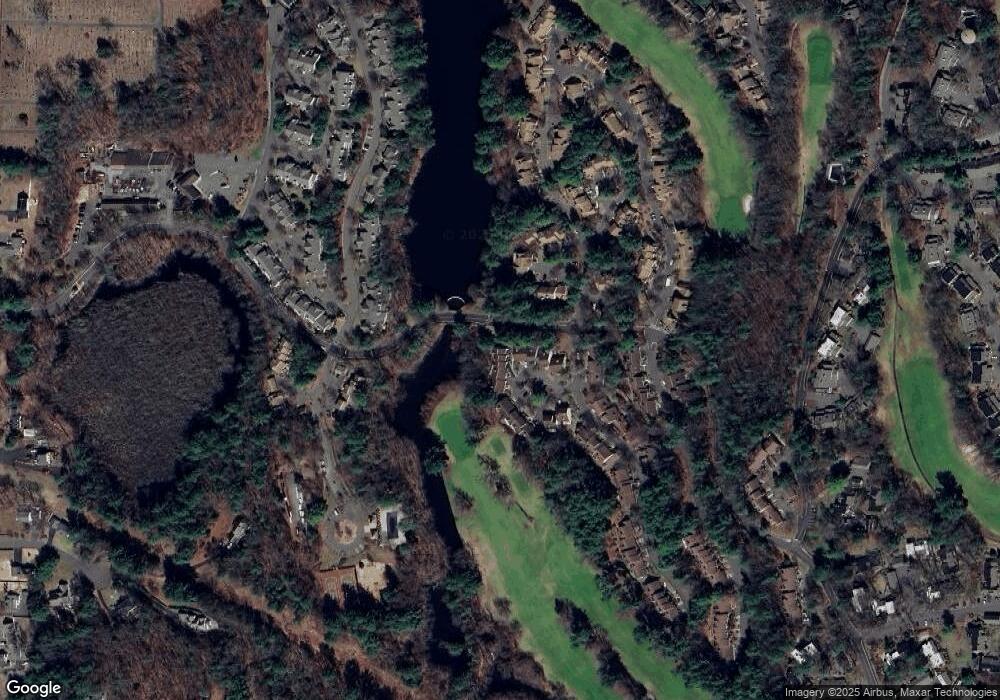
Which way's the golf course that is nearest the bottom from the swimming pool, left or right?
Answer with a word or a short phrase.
to its right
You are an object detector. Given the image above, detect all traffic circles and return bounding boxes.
[323,505,367,554]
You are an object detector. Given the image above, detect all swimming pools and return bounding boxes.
[377,503,406,546]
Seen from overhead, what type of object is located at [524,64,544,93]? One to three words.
building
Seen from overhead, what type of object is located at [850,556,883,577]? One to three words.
house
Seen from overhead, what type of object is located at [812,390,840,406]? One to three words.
house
